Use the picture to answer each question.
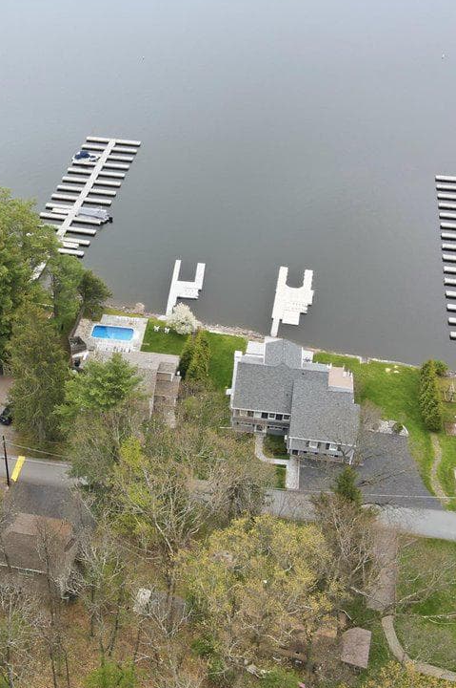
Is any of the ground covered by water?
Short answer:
Yes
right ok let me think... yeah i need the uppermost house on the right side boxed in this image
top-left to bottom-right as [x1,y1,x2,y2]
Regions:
[224,336,360,460]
